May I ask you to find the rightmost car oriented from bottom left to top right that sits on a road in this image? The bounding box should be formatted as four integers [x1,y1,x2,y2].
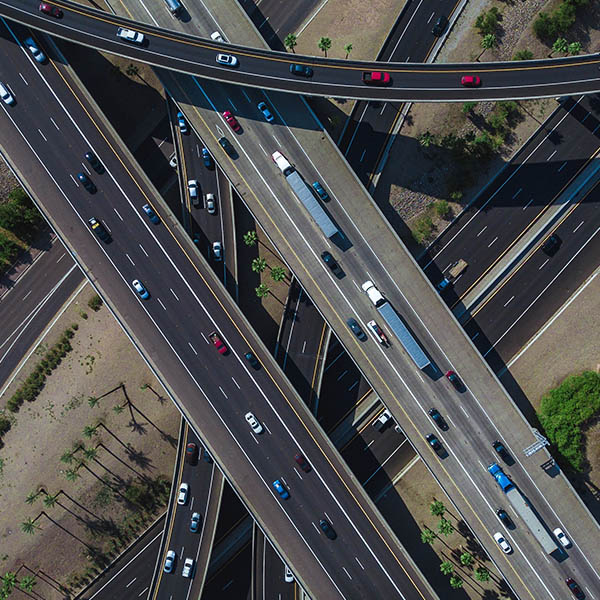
[541,234,560,254]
